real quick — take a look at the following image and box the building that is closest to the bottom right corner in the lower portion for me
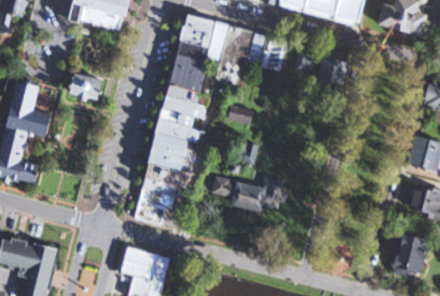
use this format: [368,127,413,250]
[396,235,428,276]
